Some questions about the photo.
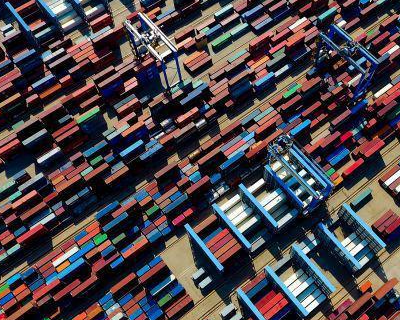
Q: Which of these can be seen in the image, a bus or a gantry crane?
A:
gantry crane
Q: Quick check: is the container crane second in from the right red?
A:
No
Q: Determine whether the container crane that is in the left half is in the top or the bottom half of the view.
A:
top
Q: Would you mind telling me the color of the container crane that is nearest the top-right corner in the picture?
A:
blue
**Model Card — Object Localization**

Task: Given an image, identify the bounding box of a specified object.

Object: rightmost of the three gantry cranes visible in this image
[311,22,382,105]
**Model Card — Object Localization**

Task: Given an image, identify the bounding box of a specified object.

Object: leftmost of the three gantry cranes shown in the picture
[123,11,184,93]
